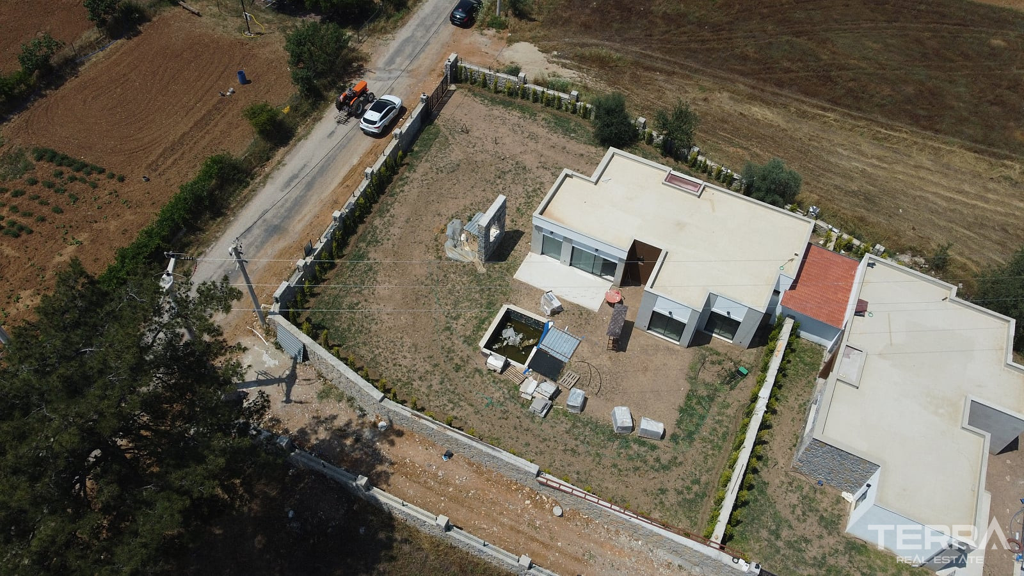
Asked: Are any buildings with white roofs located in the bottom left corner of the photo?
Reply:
No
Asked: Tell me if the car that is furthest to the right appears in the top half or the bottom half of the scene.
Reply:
top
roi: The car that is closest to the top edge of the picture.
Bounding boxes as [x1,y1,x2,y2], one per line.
[455,0,486,25]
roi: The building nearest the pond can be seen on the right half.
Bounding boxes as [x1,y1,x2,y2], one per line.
[530,147,816,348]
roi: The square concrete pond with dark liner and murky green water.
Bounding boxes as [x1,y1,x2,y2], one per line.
[481,301,552,369]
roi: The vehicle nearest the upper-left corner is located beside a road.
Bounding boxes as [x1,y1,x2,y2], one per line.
[327,82,372,128]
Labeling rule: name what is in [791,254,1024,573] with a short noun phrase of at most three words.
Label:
house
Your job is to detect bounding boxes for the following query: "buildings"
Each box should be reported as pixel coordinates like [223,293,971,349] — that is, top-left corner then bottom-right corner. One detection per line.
[530,147,816,348]
[791,254,1024,573]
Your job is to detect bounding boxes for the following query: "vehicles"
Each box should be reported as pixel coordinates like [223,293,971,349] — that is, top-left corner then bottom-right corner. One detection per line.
[455,0,486,25]
[360,94,404,133]
[327,82,372,128]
